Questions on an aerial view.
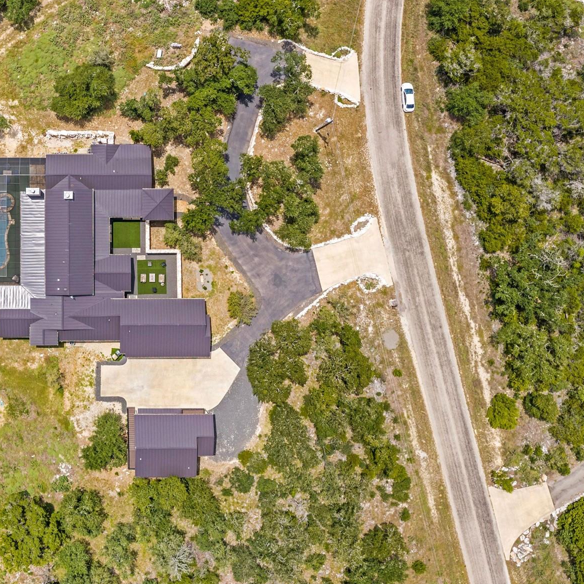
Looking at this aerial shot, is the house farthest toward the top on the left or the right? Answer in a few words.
left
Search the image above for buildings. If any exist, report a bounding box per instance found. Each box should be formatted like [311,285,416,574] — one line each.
[134,408,214,479]
[0,144,210,358]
